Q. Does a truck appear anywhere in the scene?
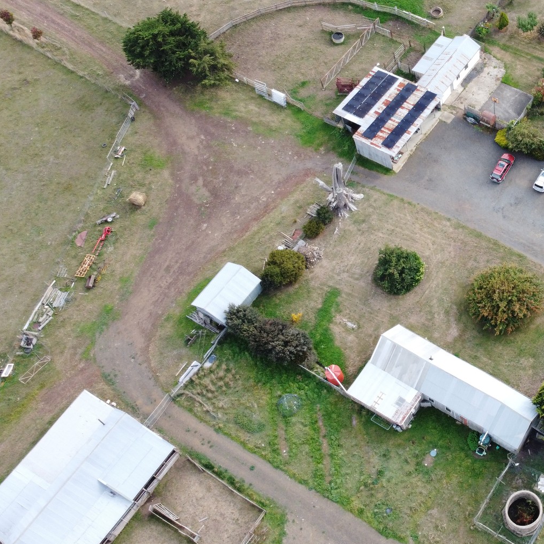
No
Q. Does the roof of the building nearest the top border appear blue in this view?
No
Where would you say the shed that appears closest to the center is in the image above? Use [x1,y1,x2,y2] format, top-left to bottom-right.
[191,262,267,333]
